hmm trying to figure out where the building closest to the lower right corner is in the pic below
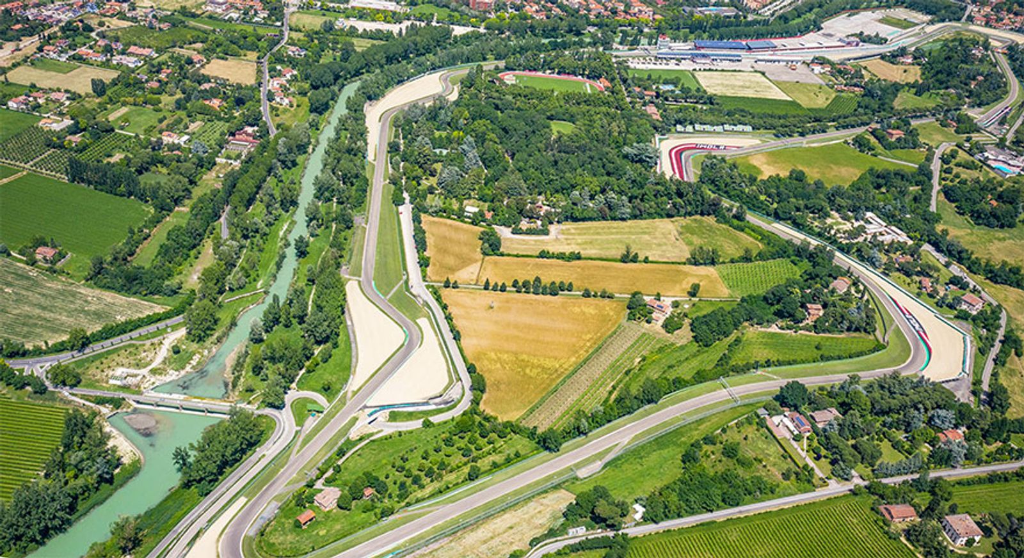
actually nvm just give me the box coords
[944,514,983,545]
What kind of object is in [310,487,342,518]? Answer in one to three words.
house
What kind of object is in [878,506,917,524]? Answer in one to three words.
barn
